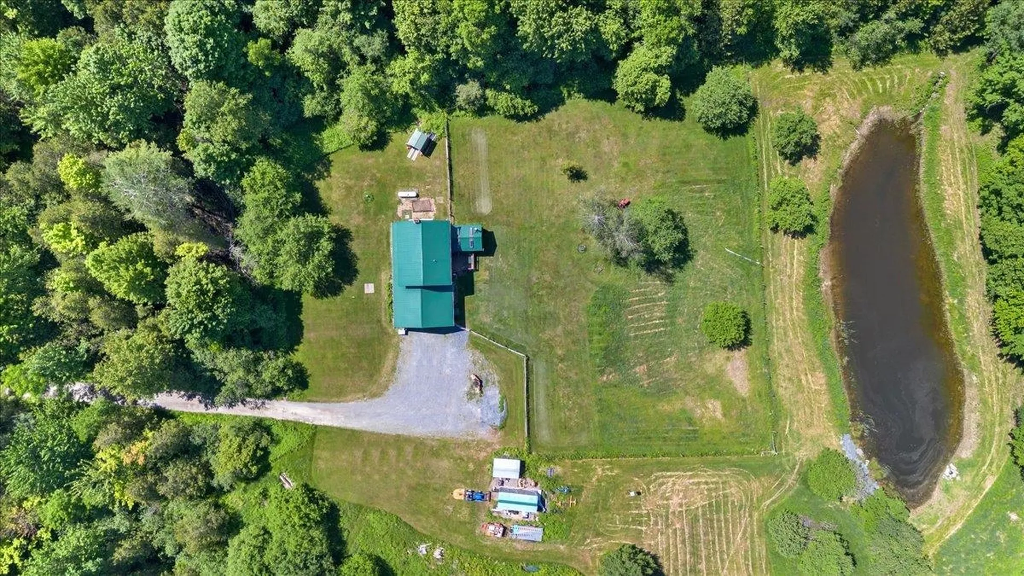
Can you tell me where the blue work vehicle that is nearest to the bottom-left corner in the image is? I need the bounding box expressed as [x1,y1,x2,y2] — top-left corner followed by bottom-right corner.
[468,490,493,504]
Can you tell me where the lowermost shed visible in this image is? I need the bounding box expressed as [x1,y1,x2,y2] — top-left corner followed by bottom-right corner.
[496,487,545,517]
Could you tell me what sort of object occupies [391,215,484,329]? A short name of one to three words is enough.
house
